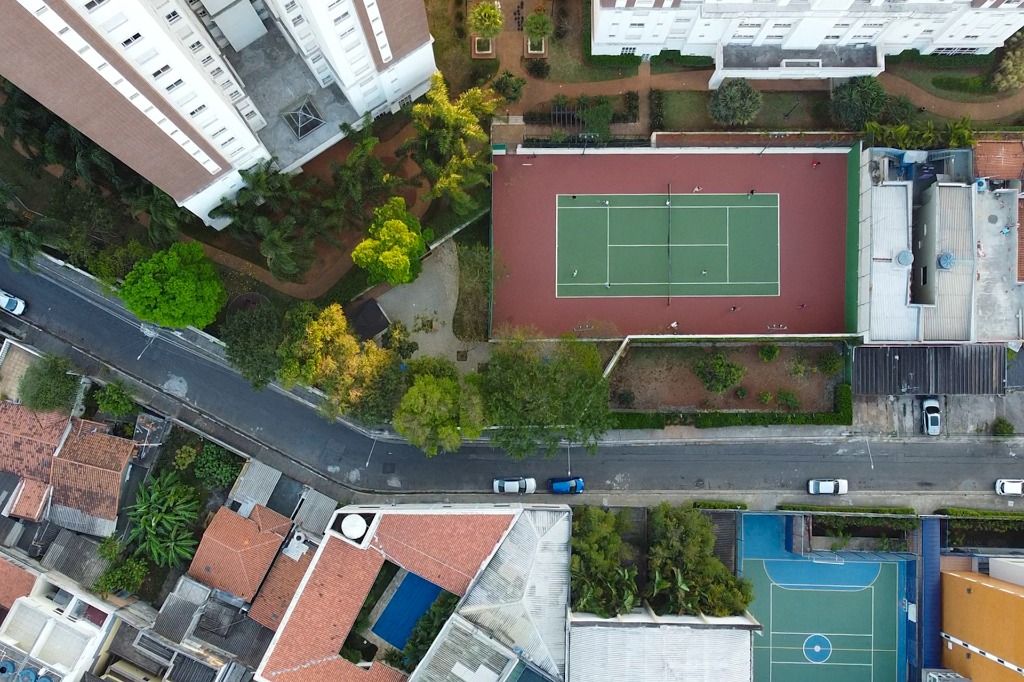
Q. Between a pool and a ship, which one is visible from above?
pool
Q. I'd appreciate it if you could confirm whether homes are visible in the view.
Yes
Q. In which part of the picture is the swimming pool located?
bottom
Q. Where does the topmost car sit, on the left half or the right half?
left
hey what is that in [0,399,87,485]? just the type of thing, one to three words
house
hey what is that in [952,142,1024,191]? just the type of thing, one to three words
house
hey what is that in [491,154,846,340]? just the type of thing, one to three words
tennis court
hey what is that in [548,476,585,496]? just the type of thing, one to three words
car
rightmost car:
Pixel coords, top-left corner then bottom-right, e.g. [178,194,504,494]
[993,477,1024,497]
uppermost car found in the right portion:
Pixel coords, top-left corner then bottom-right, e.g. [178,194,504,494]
[921,399,944,436]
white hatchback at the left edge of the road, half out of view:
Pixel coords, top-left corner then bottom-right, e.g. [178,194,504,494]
[0,288,26,313]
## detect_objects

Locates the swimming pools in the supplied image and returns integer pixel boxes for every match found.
[366,571,447,653]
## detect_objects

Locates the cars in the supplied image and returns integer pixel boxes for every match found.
[993,477,1024,497]
[493,475,537,496]
[921,399,944,436]
[0,288,26,313]
[548,476,585,496]
[807,477,847,497]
